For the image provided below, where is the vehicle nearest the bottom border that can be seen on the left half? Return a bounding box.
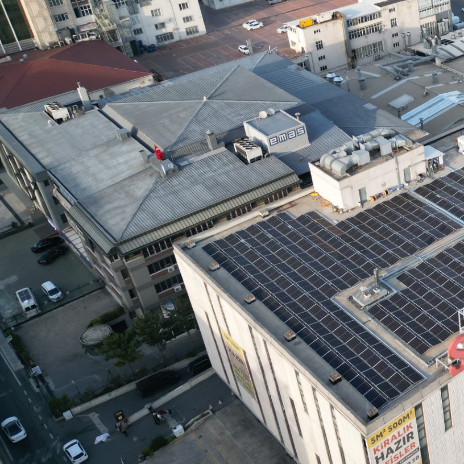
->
[61,435,90,464]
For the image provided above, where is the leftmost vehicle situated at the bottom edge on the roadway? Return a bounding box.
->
[0,413,26,443]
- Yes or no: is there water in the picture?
No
